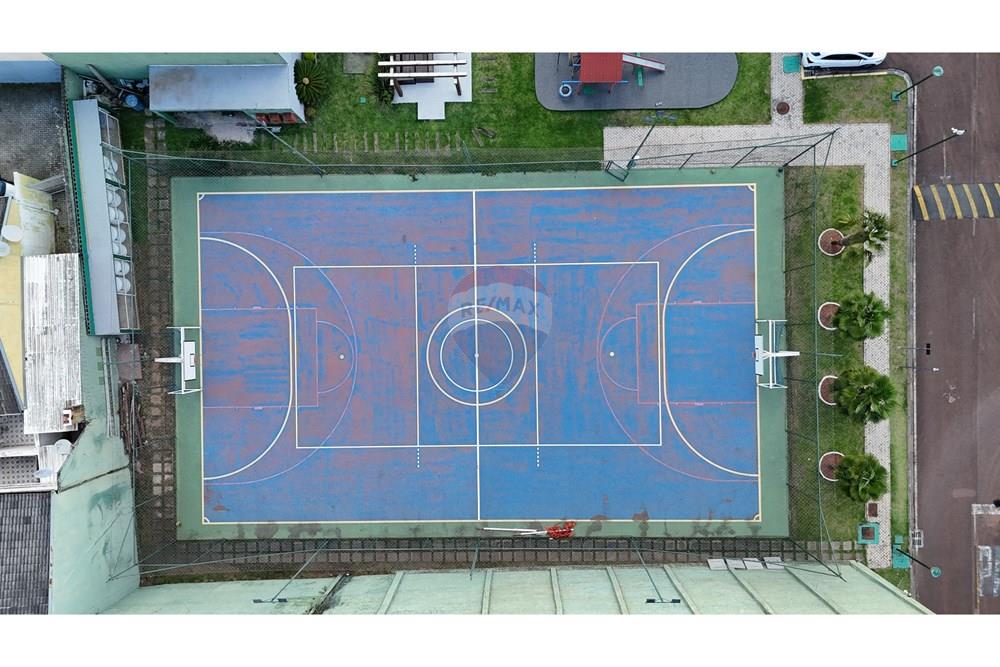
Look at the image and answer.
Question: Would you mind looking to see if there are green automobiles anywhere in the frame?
No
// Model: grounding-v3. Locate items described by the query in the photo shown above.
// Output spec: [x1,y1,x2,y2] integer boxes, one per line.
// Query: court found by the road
[172,167,790,540]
